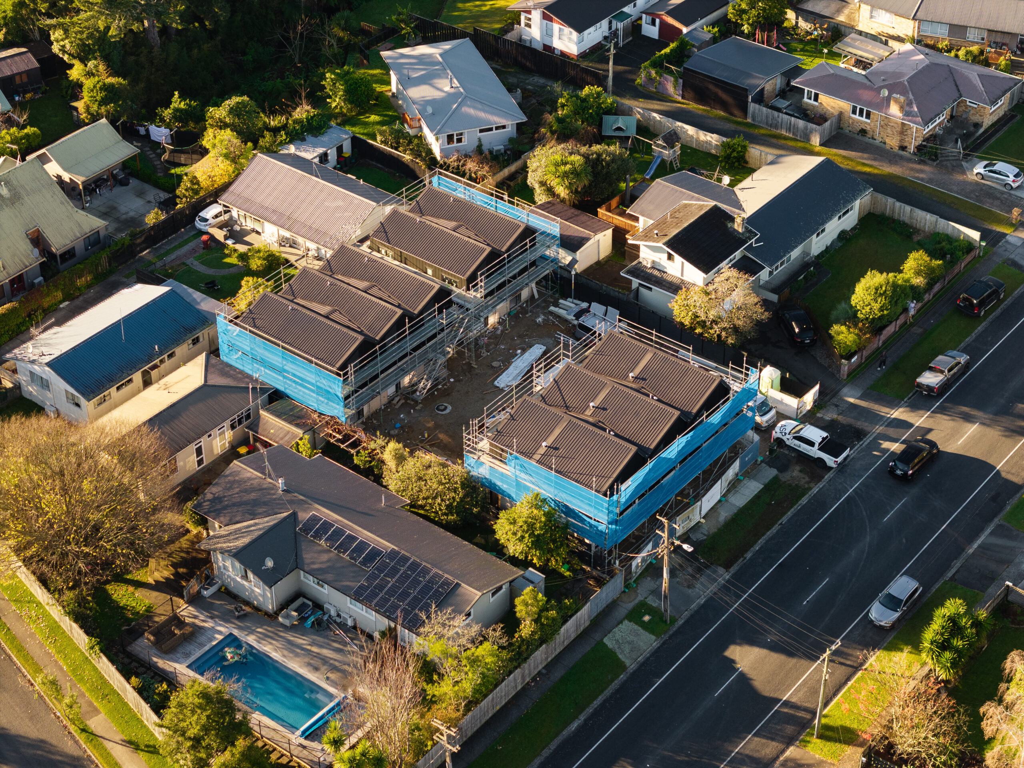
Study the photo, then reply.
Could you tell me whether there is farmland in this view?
No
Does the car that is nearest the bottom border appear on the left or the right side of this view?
right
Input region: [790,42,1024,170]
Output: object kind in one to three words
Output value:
house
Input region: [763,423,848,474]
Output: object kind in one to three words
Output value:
truck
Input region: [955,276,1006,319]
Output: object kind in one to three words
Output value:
car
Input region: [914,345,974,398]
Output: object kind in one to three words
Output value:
truck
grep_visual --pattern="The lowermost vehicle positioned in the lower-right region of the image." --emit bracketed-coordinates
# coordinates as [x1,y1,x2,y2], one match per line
[866,569,929,632]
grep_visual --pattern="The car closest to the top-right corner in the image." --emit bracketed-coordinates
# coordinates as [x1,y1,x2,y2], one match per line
[973,160,1024,190]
